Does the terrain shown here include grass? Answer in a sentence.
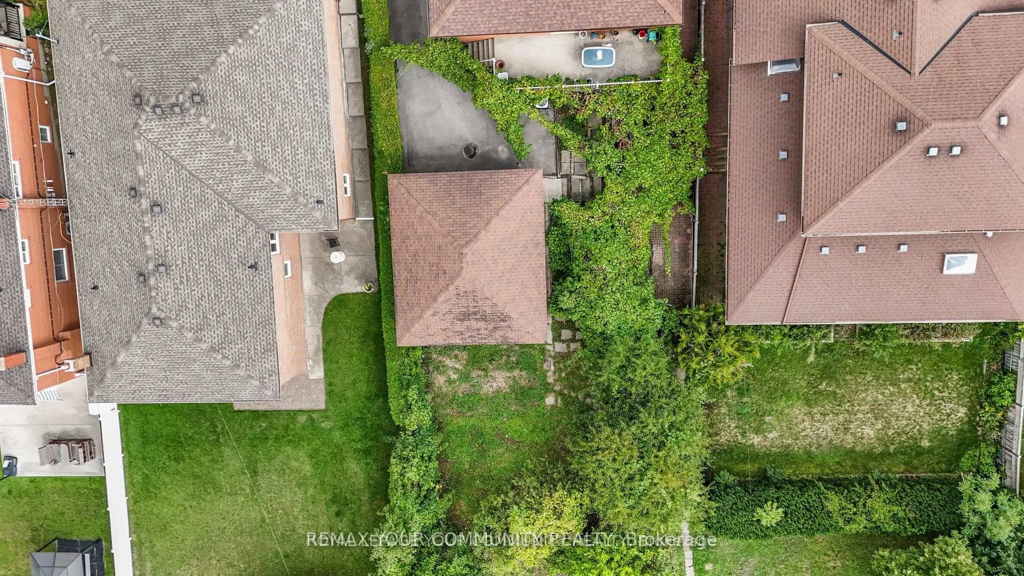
Yes, there's grass in this view.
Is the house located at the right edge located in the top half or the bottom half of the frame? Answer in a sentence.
Seen from above, the house located at the right edge lies in the top half of the view.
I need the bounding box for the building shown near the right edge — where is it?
[721,0,1024,327]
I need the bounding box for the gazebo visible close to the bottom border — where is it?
[30,534,108,576]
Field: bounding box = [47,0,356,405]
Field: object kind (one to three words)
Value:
house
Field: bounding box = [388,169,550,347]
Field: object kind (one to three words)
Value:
building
